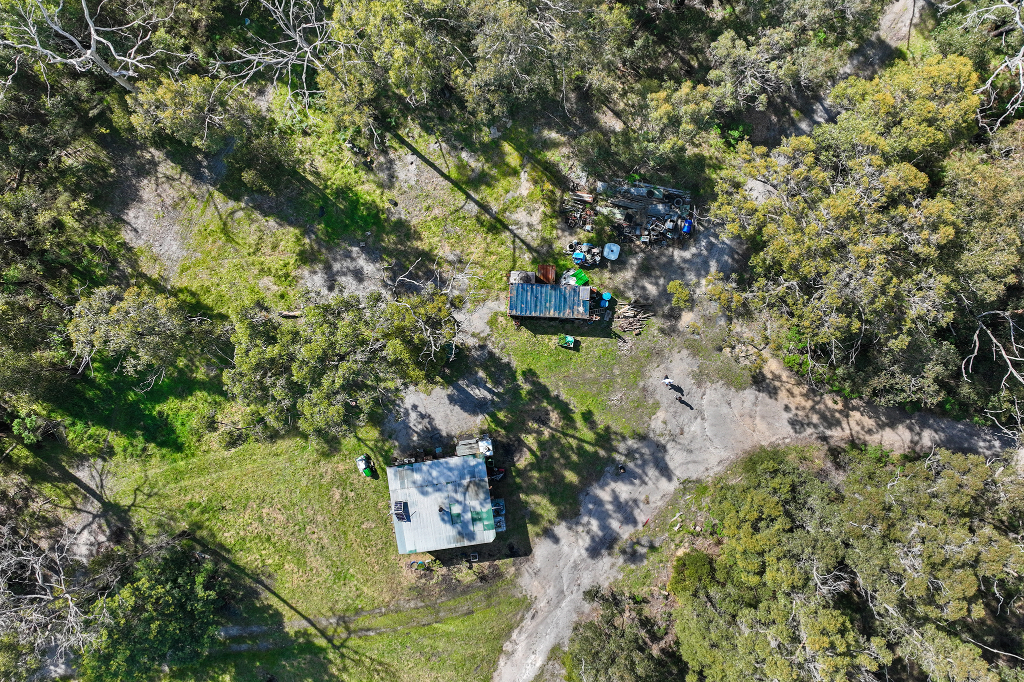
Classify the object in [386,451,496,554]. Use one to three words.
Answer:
shed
